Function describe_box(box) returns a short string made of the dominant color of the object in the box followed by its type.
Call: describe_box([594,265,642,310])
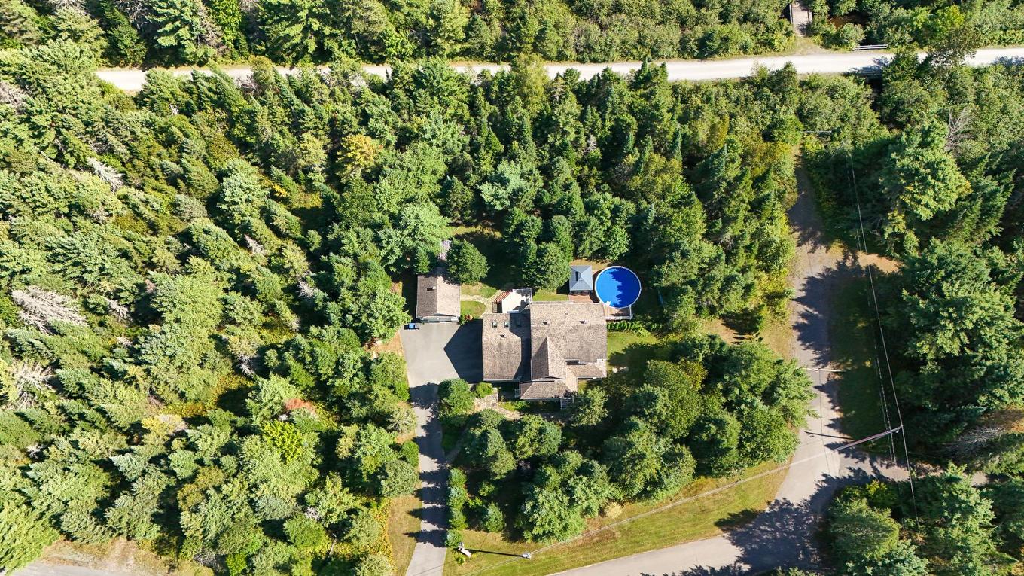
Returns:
blue swimming pool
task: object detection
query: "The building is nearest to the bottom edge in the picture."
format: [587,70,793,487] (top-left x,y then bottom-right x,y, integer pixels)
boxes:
[482,303,608,412]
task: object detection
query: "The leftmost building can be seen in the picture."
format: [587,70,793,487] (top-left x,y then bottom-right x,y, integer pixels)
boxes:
[415,271,462,321]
